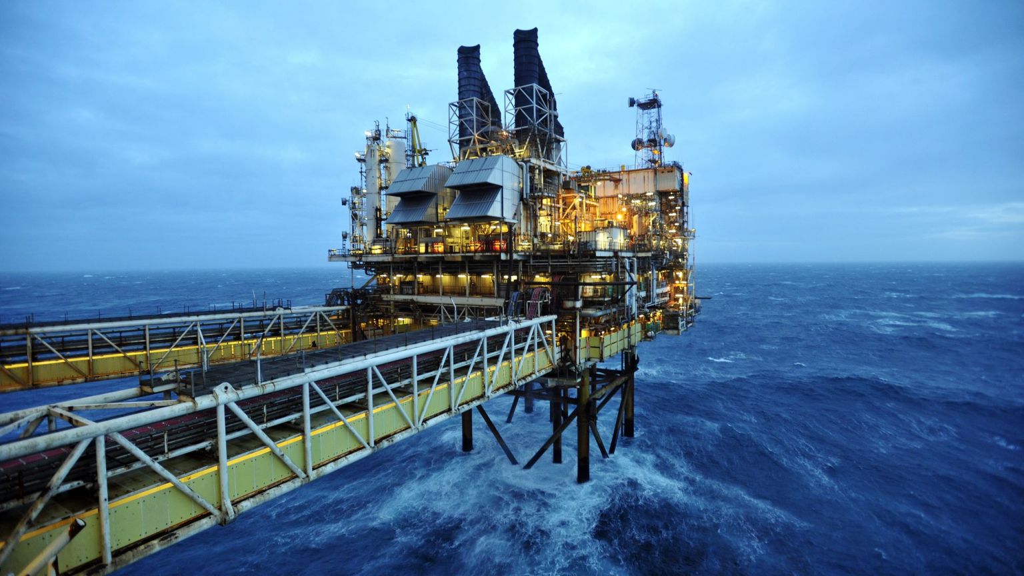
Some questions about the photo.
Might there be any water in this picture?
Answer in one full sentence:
Yes, water can be seen from above here.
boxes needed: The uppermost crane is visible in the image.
[404,105,451,169]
